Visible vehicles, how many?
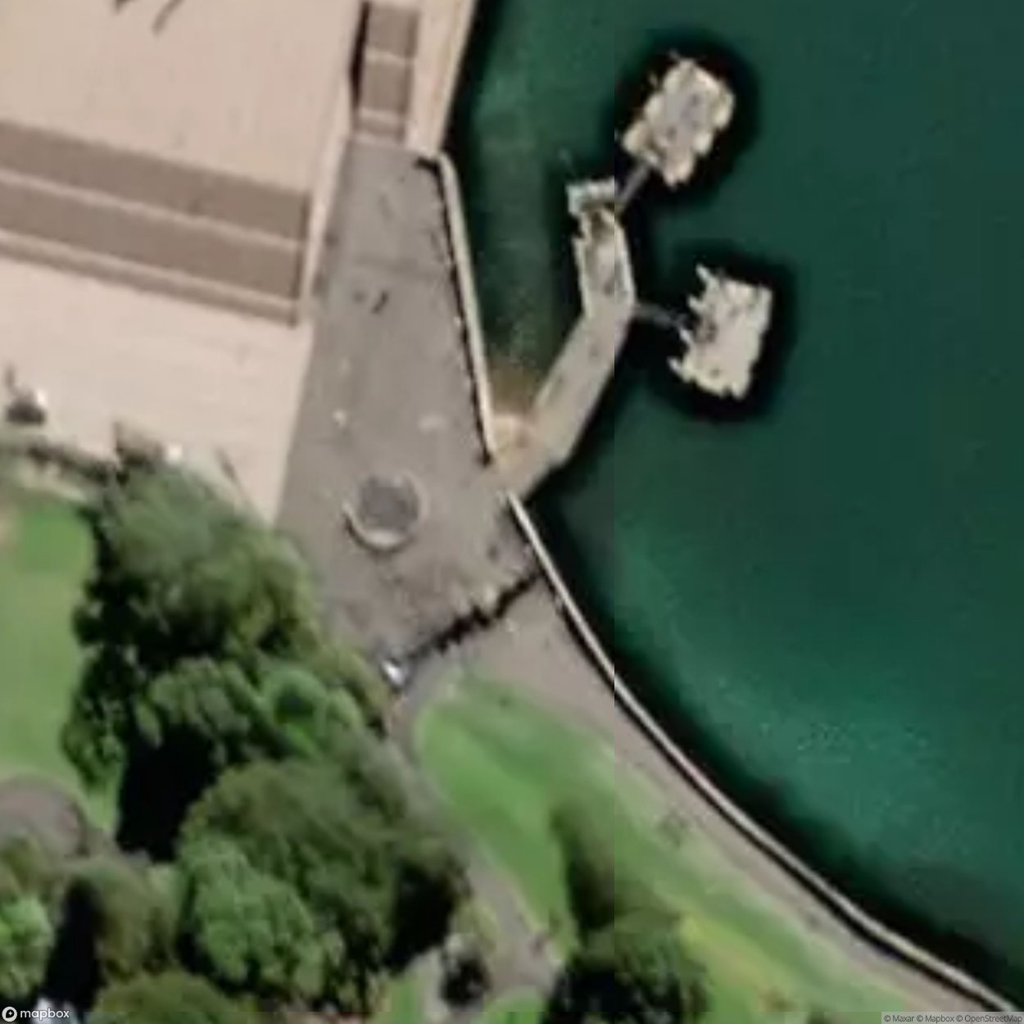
one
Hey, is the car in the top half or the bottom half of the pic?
bottom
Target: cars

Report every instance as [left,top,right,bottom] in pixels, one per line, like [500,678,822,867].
[385,662,409,693]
